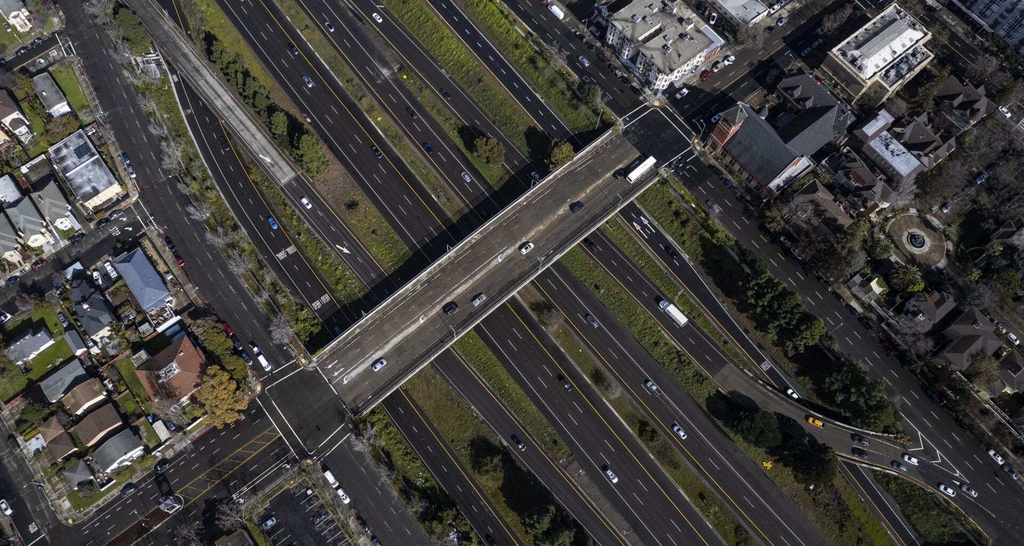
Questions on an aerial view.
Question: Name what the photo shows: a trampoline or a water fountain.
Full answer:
The one in the frame is a water fountain.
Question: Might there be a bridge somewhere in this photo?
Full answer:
Yes, there's a bridge down there.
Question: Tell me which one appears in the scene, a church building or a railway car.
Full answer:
It is a church building that can be seen here.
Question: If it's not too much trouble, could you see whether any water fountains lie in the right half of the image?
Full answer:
Yes, a water fountain appears in the right half of the image.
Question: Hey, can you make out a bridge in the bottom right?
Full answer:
Yes, I can see a bridge in the bottom right.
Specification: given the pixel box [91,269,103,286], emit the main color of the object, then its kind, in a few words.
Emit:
white vehicle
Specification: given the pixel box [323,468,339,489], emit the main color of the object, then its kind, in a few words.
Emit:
white vehicle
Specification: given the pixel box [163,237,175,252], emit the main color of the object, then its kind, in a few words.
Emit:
black vehicle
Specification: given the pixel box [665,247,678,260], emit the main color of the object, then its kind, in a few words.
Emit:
black vehicle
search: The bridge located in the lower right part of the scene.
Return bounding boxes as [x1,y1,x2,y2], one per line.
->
[714,361,896,473]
